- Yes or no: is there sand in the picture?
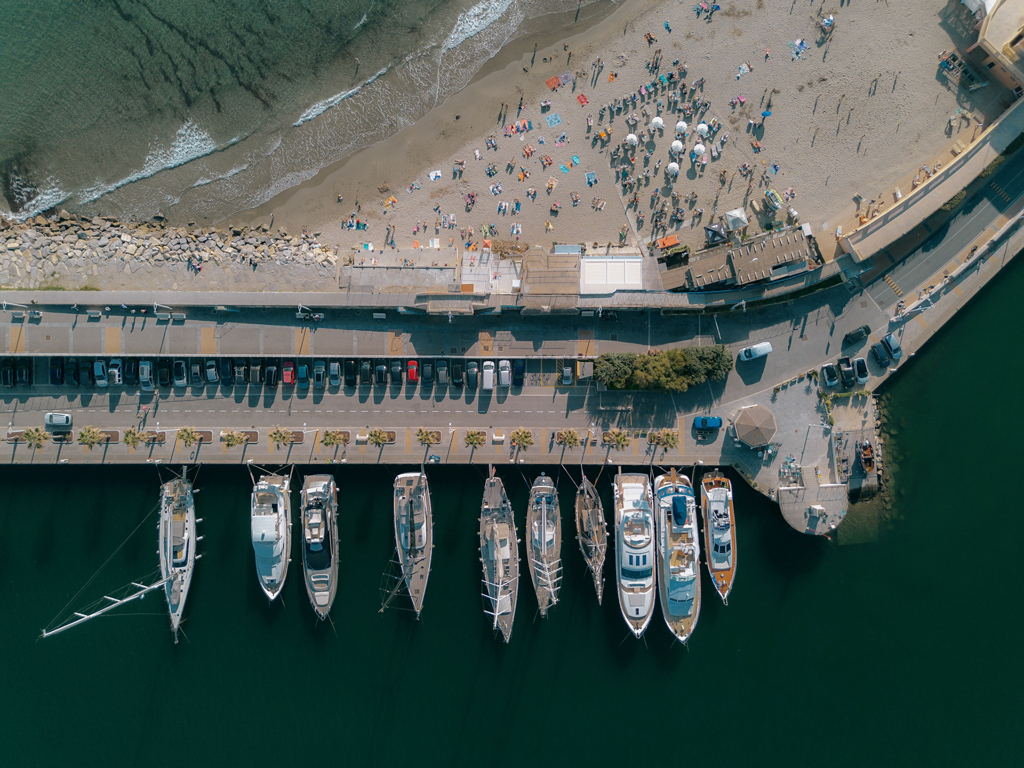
Yes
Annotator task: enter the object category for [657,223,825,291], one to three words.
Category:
building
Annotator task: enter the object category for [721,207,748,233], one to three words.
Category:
tent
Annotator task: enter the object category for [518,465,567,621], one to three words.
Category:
boat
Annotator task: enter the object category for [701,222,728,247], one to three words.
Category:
tent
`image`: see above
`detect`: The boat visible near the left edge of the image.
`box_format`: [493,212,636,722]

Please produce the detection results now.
[40,463,201,644]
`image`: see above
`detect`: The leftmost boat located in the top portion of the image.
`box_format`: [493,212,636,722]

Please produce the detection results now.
[655,235,681,249]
